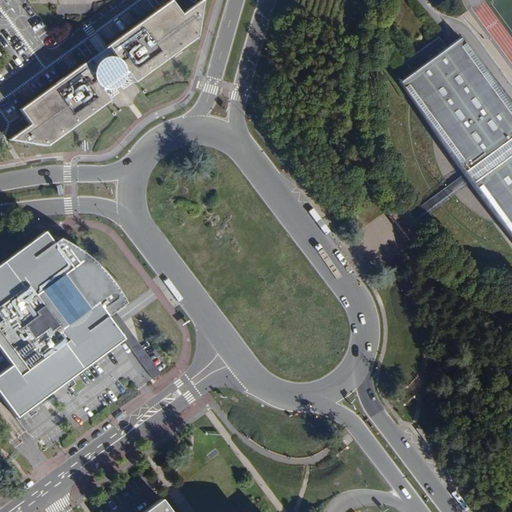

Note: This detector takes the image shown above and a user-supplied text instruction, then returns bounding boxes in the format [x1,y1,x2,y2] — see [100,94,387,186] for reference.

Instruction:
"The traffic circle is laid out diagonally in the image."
[78,75,400,494]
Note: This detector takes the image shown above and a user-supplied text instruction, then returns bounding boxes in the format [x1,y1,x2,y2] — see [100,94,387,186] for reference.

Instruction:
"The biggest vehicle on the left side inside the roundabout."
[164,276,186,303]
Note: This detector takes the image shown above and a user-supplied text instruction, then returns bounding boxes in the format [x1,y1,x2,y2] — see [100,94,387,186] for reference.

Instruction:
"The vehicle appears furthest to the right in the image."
[450,488,472,512]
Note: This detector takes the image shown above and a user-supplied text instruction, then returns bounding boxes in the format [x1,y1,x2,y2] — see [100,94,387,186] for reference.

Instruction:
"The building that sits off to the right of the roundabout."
[399,38,512,240]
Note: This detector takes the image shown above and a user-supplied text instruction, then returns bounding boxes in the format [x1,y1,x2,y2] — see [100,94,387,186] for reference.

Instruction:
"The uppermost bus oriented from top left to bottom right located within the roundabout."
[307,208,331,236]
